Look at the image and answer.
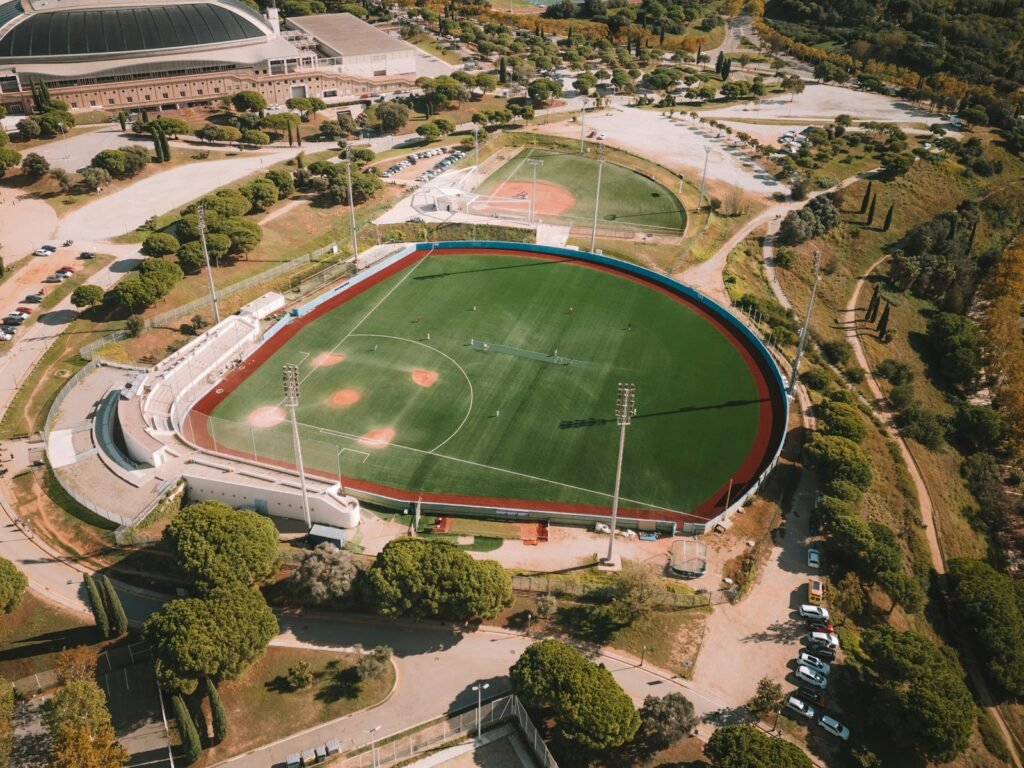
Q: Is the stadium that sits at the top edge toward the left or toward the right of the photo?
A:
left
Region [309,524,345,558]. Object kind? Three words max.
shed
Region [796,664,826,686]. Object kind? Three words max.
car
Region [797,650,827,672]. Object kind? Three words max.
car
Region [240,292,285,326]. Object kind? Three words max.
building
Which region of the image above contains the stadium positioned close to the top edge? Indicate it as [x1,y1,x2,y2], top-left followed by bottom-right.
[0,0,414,128]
